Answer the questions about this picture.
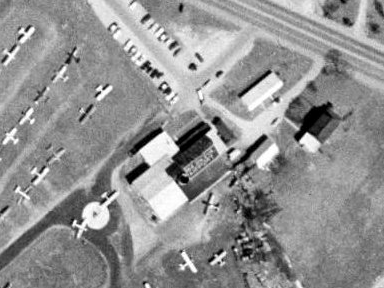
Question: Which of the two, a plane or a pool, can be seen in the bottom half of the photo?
plane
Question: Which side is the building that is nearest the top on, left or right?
right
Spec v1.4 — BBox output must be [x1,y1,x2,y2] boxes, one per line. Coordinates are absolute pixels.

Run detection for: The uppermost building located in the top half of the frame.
[242,73,283,110]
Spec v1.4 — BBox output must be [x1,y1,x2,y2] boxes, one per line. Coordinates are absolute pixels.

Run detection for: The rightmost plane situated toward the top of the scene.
[96,84,113,101]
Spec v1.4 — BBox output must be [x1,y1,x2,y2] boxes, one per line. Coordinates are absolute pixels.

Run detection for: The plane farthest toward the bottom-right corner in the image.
[210,252,227,268]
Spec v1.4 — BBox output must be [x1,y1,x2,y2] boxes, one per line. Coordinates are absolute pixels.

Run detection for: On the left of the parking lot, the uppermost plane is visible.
[18,26,35,43]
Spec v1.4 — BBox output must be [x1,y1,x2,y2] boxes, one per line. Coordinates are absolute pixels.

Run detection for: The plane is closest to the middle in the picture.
[204,195,218,214]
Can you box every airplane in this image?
[65,47,80,65]
[3,129,18,145]
[18,109,35,125]
[73,219,88,238]
[80,107,96,123]
[34,86,50,103]
[52,66,69,83]
[204,195,218,214]
[48,147,65,164]
[15,186,32,205]
[179,253,197,272]
[96,84,113,101]
[103,190,120,207]
[32,168,49,185]
[5,45,21,62]
[18,26,35,43]
[0,207,11,221]
[210,252,227,268]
